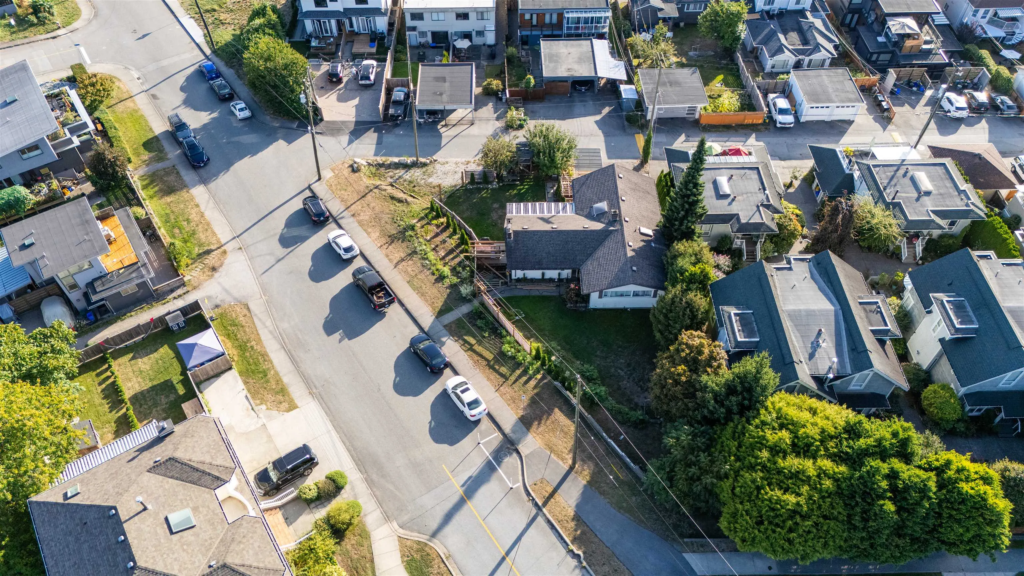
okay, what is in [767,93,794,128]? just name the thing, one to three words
car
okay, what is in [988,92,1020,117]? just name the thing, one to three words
car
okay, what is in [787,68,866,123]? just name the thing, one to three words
building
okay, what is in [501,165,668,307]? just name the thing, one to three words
house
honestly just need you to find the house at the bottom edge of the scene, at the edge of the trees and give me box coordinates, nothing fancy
[26,413,296,576]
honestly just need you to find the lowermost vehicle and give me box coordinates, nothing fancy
[250,443,325,500]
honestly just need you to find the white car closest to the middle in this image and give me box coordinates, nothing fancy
[443,371,489,425]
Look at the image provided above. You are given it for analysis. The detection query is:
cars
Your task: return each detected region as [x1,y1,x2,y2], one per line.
[574,79,591,93]
[229,101,252,122]
[250,443,325,500]
[328,59,346,82]
[443,371,489,425]
[197,60,221,83]
[299,192,330,227]
[938,93,967,118]
[959,87,990,112]
[351,263,396,315]
[767,93,794,128]
[359,62,377,86]
[209,79,234,103]
[166,109,195,144]
[387,88,408,120]
[408,328,451,376]
[988,92,1020,117]
[325,226,359,264]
